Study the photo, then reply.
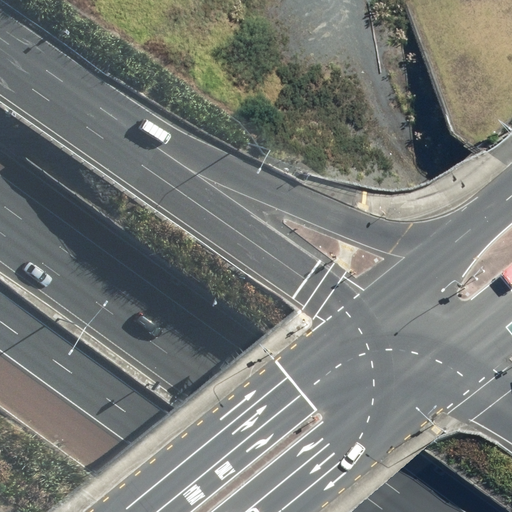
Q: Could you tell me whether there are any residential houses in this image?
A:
No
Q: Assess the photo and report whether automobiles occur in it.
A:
Yes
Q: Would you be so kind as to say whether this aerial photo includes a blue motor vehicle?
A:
No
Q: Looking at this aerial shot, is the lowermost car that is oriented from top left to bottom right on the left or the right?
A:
left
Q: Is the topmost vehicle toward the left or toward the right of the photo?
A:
left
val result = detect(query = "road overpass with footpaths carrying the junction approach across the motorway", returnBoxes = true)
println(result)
[46,310,512,512]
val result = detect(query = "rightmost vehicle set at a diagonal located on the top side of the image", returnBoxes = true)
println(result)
[139,118,172,144]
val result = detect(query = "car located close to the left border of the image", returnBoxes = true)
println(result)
[23,262,53,287]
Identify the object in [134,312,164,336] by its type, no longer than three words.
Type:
car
